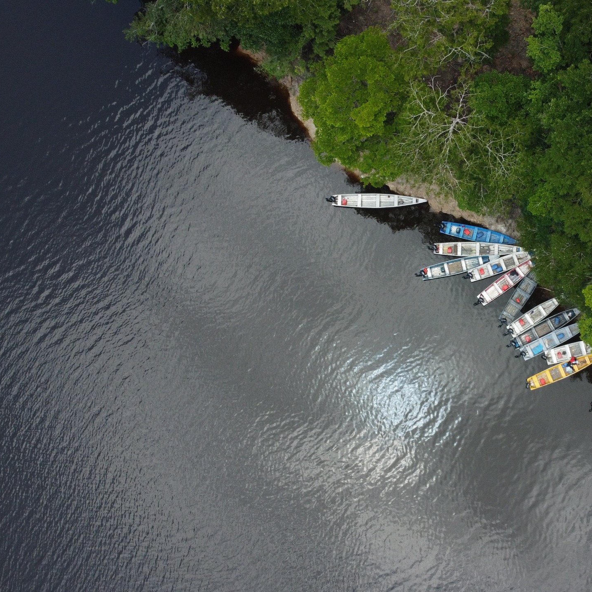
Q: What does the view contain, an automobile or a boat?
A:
boat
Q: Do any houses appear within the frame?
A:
No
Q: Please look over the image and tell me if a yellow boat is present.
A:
Yes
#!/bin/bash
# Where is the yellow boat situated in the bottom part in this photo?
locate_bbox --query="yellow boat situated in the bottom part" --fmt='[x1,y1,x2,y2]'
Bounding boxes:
[526,356,592,394]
